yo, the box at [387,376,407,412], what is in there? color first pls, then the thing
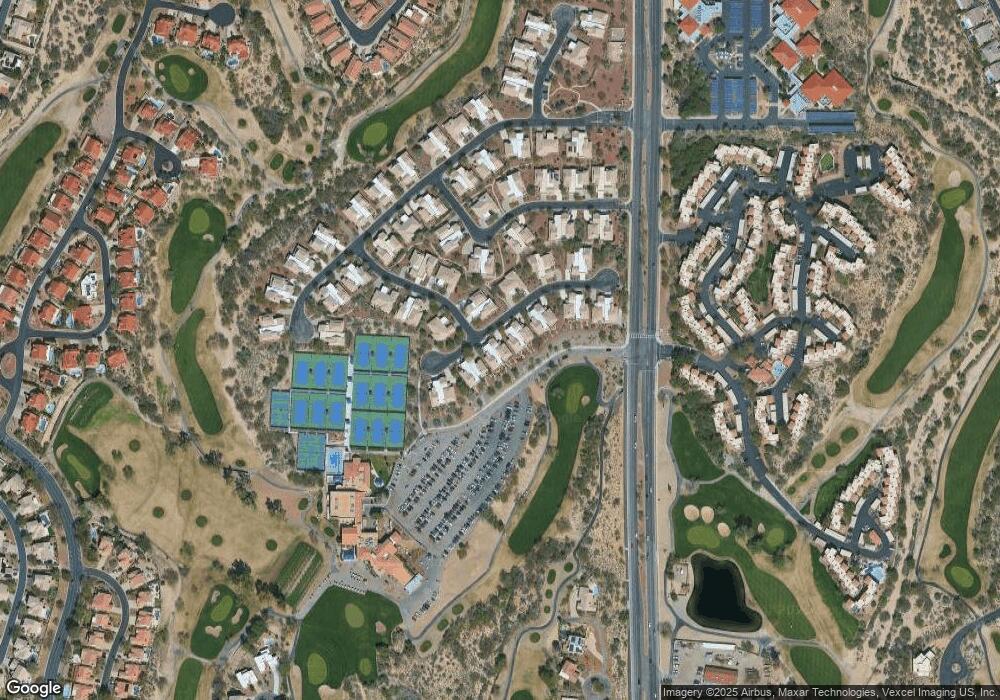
blue tennis court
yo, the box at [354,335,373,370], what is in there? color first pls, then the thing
blue tennis court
